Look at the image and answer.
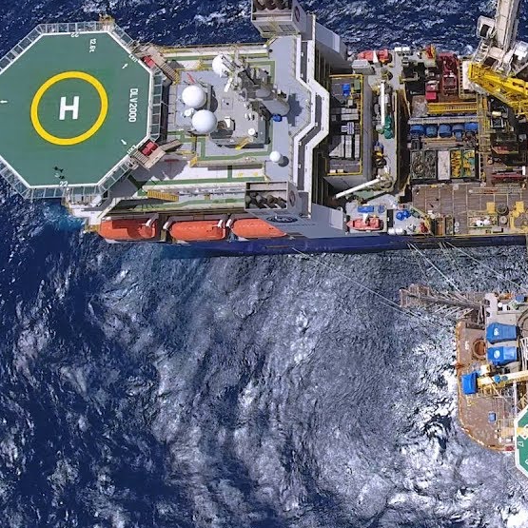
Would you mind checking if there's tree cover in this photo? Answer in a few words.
No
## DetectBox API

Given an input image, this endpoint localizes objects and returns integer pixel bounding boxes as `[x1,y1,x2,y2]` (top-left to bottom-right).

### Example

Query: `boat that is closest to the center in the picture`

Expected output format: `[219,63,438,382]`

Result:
[230,210,284,240]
